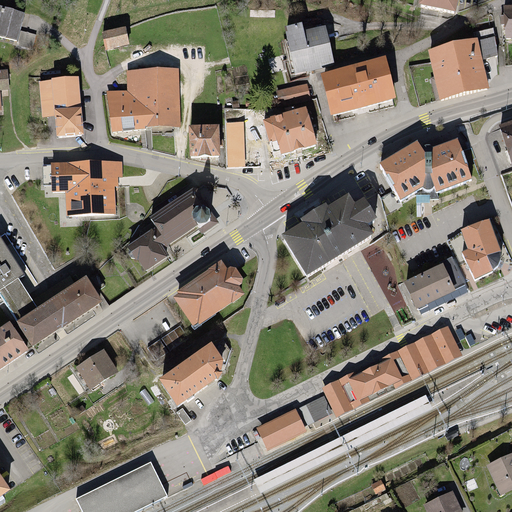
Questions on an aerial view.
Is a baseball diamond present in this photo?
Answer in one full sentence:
No, there's no baseball diamond here.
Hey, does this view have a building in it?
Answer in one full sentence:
Yes, I can see a building in this picture.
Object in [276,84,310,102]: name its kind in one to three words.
shed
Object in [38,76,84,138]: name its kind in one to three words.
house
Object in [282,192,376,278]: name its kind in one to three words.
building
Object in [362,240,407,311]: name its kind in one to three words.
playground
